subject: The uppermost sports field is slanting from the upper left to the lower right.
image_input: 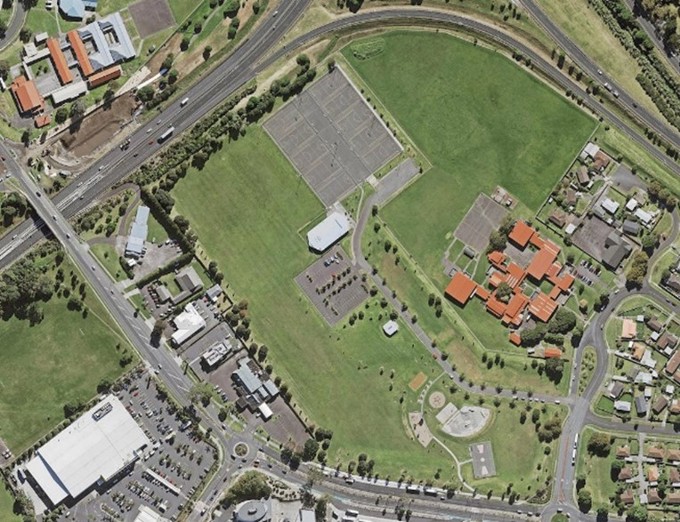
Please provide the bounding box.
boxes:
[341,30,598,215]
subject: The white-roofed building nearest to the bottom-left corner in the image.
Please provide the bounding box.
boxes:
[25,458,68,505]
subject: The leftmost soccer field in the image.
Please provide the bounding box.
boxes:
[0,312,139,455]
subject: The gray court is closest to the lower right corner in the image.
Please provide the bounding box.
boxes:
[469,441,495,479]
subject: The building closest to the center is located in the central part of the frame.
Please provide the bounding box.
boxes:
[307,211,352,251]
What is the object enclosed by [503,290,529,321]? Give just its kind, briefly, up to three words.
building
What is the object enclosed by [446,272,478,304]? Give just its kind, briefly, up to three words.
building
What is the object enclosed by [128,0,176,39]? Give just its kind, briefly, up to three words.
sports court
